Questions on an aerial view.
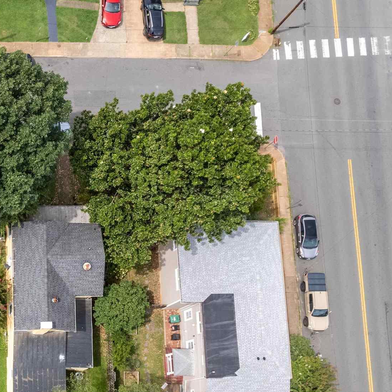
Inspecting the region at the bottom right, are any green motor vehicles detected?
No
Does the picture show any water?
No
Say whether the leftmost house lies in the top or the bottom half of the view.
bottom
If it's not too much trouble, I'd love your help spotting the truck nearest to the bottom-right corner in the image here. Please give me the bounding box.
[299,275,332,333]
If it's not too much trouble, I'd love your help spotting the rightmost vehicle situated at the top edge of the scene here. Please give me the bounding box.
[140,0,165,43]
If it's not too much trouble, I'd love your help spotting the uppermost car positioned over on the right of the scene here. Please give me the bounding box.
[292,214,321,261]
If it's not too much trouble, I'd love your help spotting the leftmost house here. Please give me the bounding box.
[3,206,108,392]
